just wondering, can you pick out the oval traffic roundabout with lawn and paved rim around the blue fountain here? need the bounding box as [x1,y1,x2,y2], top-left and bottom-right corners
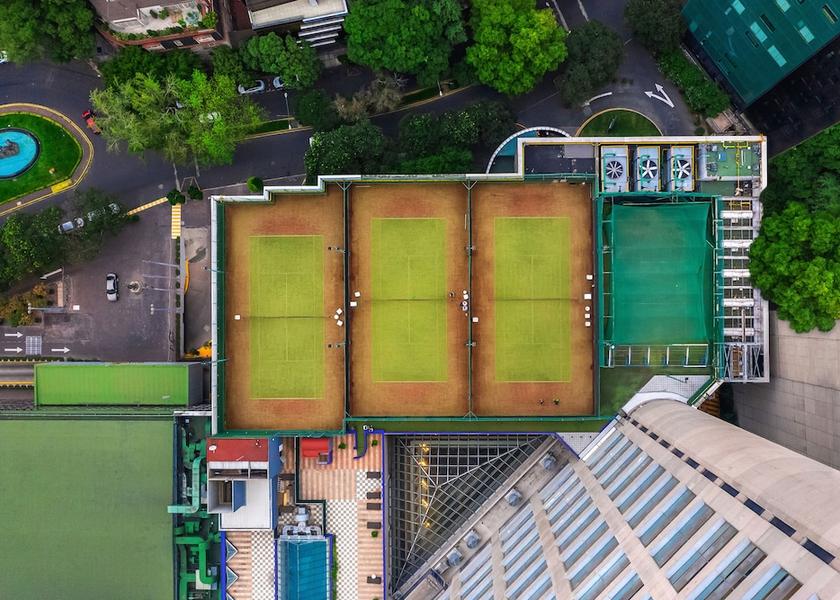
[0,104,93,215]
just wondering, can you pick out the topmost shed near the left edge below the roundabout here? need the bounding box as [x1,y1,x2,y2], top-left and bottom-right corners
[34,360,206,405]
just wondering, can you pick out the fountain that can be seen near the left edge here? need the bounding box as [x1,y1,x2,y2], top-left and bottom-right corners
[0,126,39,179]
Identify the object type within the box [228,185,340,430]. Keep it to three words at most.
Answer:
tennis court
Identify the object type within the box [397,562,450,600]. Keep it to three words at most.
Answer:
building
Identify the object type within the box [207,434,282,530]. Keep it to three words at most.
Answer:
building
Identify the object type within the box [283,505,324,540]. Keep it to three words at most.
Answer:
fountain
